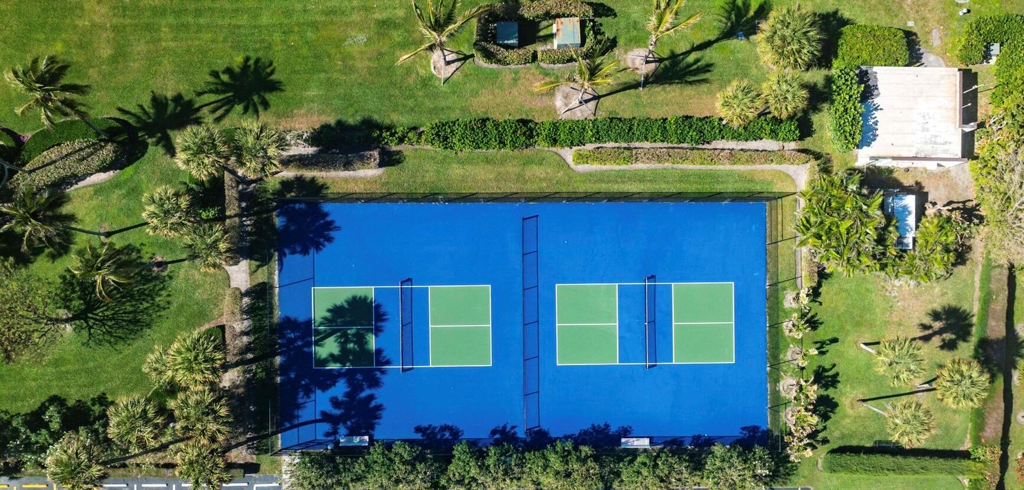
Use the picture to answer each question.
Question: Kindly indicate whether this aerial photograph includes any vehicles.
No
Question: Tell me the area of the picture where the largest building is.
top right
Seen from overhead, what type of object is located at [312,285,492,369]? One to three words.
sports court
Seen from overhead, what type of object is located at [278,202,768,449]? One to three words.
sports court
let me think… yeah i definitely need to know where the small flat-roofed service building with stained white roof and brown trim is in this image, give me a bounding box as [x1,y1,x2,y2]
[854,66,981,171]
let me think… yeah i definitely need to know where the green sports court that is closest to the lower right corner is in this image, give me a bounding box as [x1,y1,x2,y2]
[556,282,735,366]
